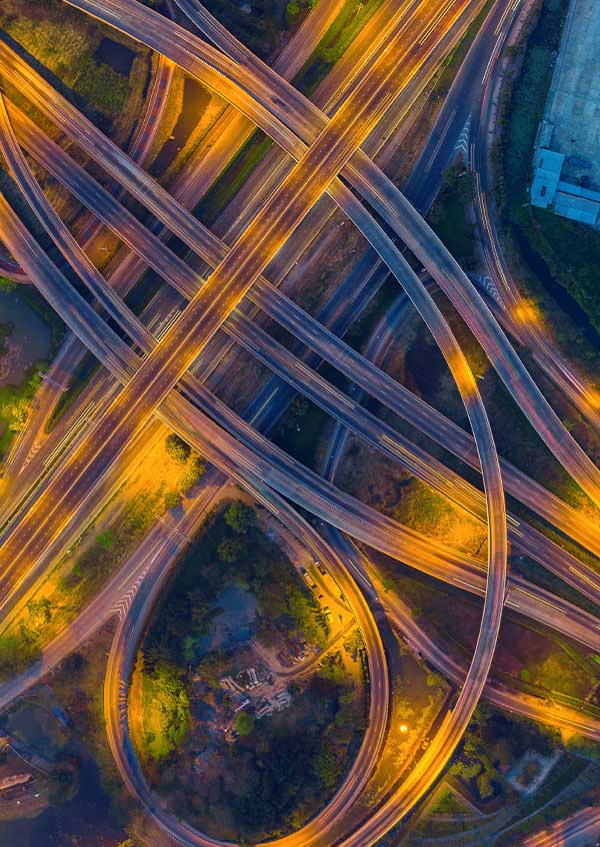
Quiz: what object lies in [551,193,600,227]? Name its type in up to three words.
building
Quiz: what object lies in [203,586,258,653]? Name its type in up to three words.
pond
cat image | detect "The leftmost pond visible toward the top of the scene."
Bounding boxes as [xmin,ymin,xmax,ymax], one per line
[0,290,52,371]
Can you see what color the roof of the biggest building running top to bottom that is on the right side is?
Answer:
blue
